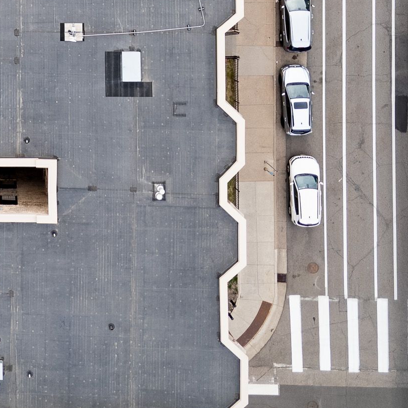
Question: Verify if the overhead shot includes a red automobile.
No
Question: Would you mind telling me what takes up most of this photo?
buildings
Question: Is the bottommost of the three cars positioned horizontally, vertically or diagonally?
vertically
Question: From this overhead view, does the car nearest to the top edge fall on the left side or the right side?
right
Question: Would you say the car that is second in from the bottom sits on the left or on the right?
right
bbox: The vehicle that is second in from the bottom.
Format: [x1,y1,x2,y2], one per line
[279,63,317,136]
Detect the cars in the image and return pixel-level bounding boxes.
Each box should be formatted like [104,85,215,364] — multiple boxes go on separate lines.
[279,0,317,54]
[287,153,326,228]
[279,63,317,136]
